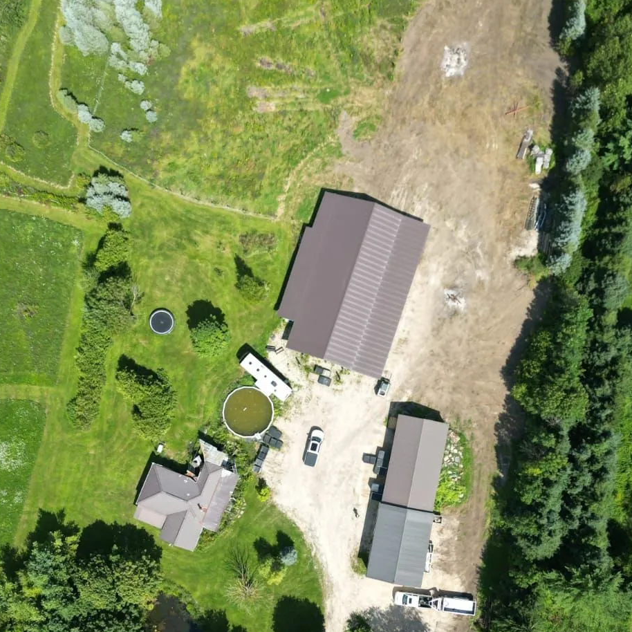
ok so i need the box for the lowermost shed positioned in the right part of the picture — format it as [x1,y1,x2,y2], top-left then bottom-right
[366,503,433,588]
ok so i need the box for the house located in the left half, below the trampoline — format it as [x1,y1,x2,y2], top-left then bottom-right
[131,460,239,551]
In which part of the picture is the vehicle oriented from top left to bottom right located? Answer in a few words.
center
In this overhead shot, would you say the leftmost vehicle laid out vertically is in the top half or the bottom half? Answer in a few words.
bottom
